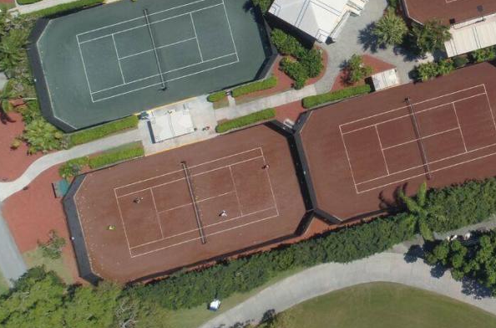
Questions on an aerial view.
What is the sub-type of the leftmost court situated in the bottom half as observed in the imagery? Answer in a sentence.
The leftmost court situated in the bottom half can be classified as a tennis court.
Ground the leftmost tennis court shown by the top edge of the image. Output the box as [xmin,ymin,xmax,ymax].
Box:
[37,0,273,128]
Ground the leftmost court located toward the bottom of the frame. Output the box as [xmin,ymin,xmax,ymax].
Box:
[75,122,314,284]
